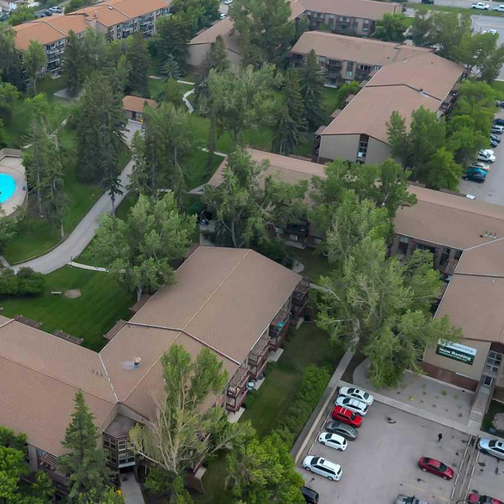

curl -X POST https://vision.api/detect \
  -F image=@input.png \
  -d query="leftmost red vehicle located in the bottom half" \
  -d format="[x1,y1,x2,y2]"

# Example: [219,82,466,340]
[330,404,363,426]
